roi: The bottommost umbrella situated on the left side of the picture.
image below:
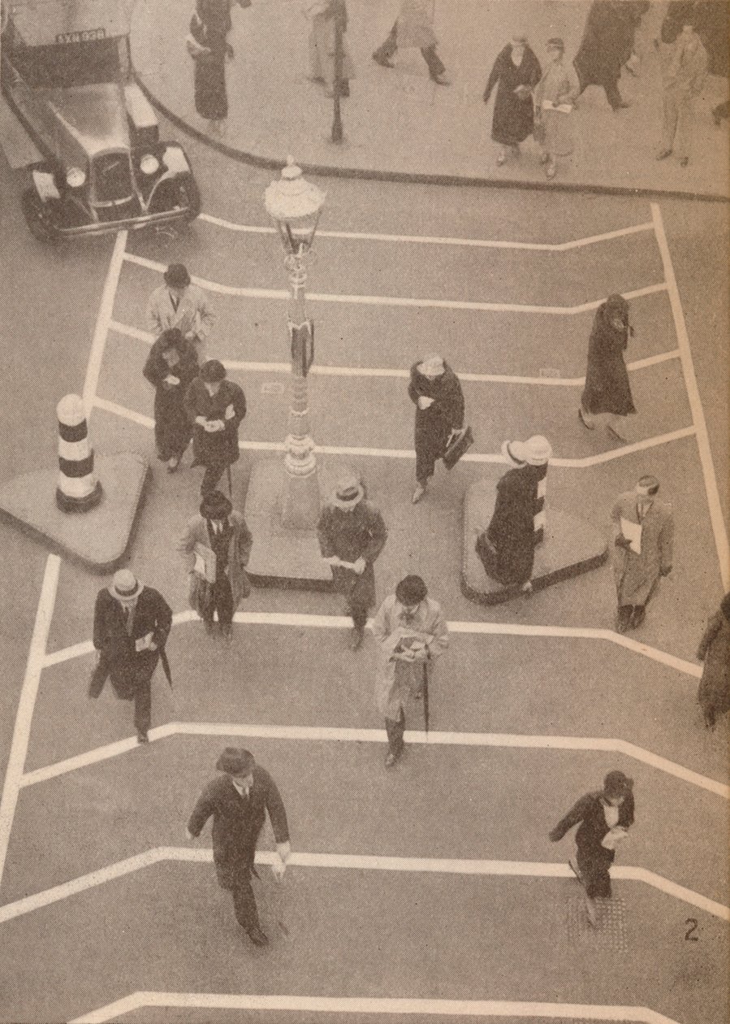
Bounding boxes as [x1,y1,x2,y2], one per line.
[154,641,173,693]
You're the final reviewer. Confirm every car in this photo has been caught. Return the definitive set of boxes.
[0,0,201,249]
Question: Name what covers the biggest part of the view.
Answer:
paved ground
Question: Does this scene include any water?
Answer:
No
